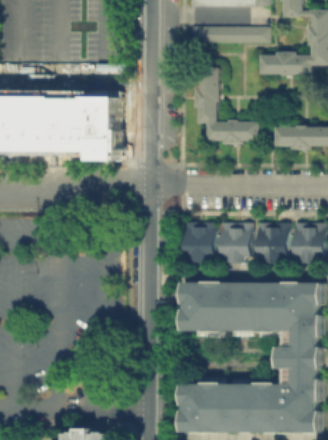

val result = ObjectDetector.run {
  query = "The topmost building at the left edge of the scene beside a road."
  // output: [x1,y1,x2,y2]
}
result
[0,95,114,164]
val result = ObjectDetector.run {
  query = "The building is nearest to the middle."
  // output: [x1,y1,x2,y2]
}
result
[186,222,216,263]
